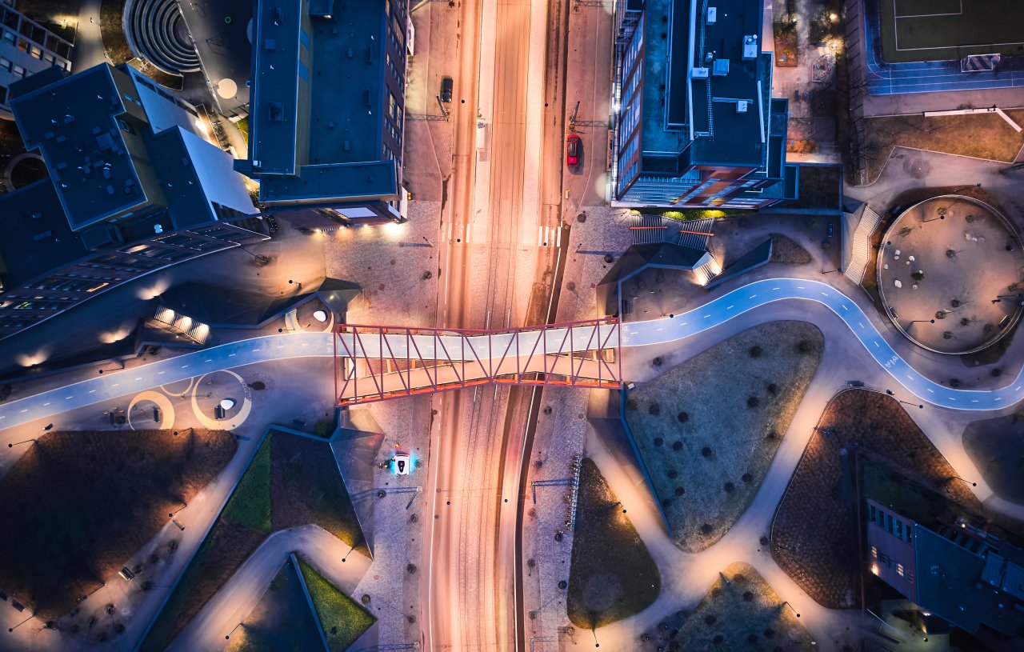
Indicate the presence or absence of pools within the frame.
No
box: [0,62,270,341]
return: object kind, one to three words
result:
building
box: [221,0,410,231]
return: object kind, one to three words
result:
building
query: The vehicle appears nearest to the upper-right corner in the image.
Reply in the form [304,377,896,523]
[567,137,579,163]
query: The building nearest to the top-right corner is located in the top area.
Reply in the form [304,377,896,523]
[601,0,798,210]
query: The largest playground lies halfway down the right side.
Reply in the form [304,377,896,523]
[884,200,1021,349]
